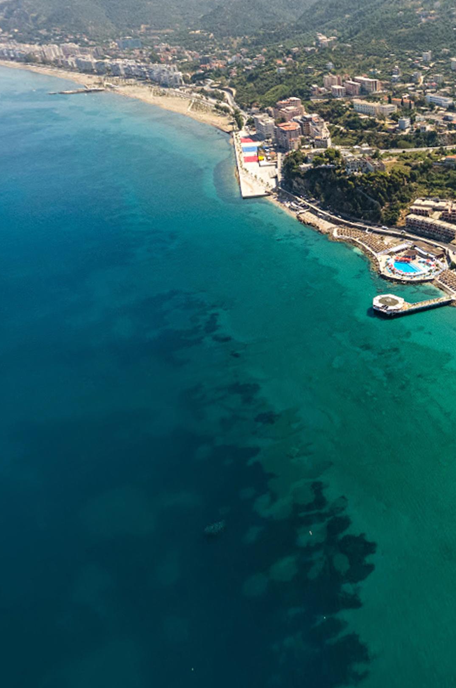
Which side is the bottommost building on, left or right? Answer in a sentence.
You can find the bottommost building on the right side of the picture.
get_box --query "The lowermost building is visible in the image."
[372,294,405,316]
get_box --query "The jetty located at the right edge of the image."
[403,294,456,313]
